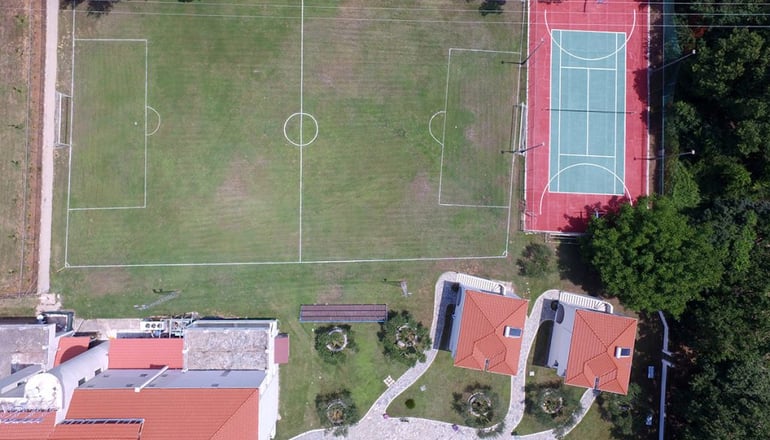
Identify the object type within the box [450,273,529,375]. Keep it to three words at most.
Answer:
house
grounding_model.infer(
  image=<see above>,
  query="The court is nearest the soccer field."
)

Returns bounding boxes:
[526,0,652,238]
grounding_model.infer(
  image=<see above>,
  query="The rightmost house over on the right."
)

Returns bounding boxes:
[549,290,639,394]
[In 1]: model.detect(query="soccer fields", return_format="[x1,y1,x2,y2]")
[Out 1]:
[65,0,526,266]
